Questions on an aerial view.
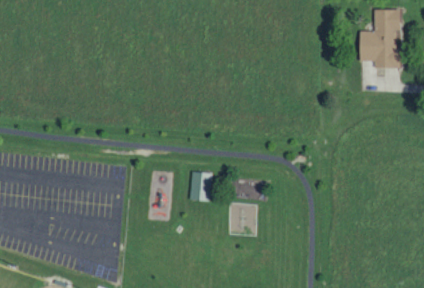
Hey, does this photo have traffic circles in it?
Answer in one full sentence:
No, I find no traffic circle anywhere in the image.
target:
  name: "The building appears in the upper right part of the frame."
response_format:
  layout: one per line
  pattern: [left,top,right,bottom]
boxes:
[360,9,401,68]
